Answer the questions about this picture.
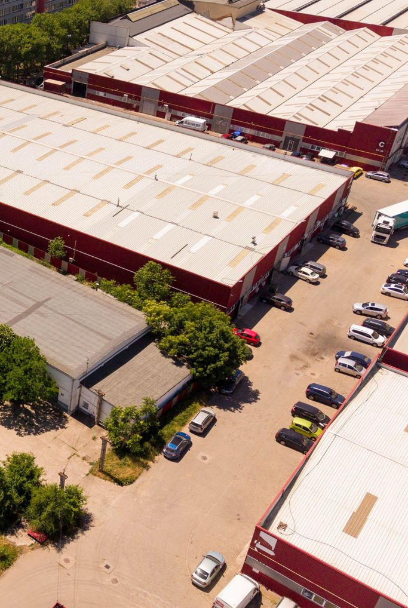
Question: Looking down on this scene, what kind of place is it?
industrial area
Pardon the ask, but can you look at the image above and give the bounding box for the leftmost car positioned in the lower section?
[164,430,192,460]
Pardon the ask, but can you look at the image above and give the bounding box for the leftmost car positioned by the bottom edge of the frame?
[191,550,228,588]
